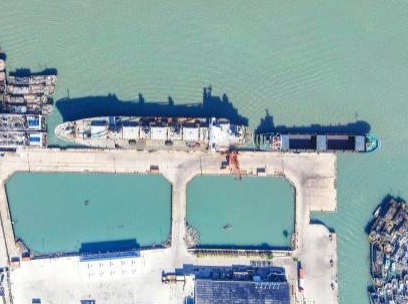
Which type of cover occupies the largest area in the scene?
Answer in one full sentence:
The bulk of the photo consists of water.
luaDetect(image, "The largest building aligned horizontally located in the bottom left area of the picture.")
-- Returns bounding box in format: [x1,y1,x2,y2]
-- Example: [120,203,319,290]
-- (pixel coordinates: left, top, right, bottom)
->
[79,257,139,277]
